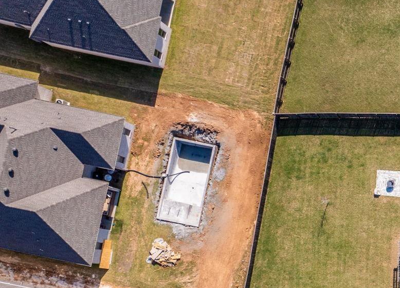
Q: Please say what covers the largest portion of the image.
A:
grass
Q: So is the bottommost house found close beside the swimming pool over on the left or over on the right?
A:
left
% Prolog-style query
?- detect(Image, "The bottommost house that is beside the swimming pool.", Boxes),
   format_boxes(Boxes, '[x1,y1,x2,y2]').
[0,72,137,267]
